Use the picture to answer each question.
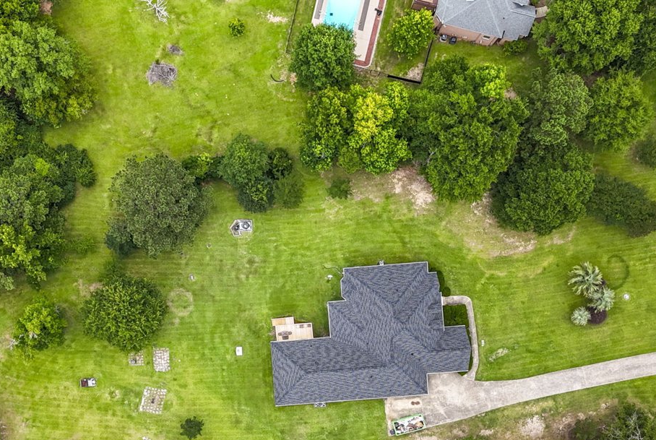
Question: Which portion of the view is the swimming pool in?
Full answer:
Look in the top portion of the view to spot the swimming pool.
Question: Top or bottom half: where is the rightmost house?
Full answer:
You can find the rightmost house in the top half.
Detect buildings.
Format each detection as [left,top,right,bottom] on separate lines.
[431,0,541,49]
[271,261,470,406]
